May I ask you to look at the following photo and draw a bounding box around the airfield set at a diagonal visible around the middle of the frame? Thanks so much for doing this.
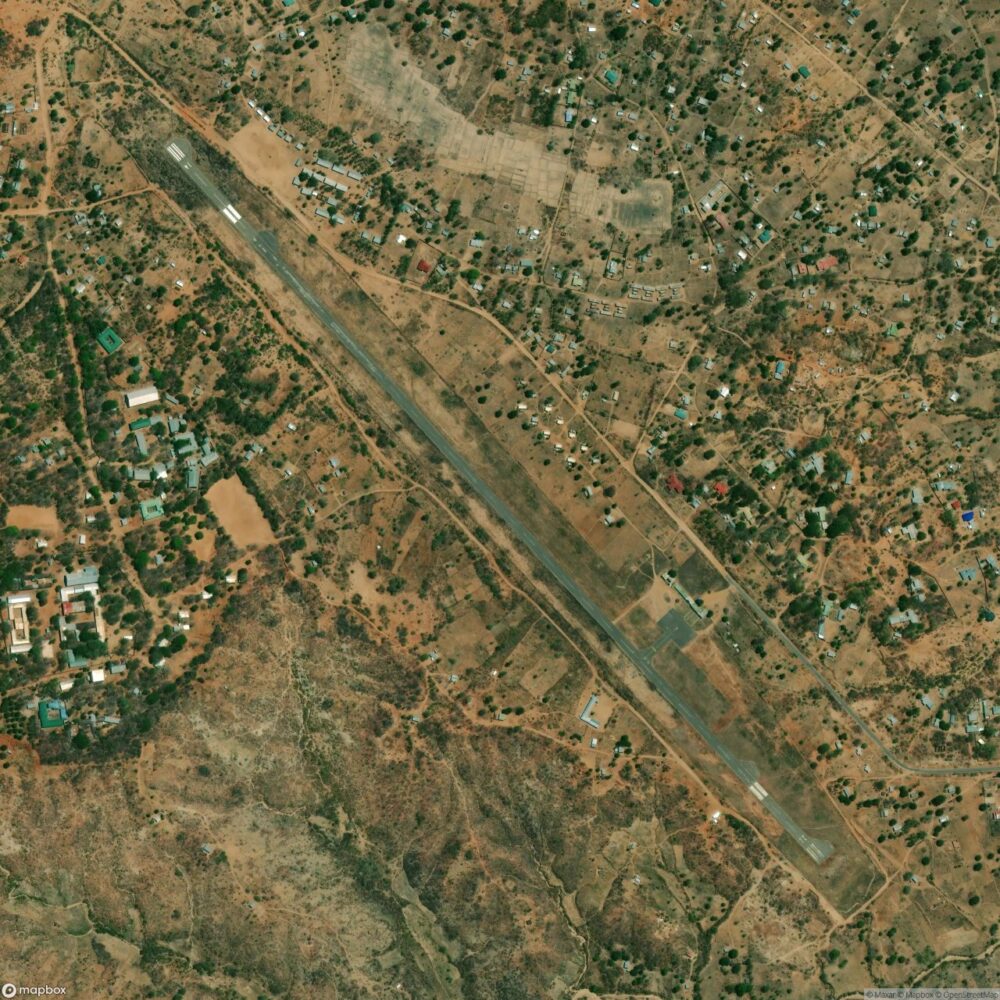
[164,137,831,864]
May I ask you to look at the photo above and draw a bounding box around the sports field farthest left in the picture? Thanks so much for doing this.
[7,505,60,529]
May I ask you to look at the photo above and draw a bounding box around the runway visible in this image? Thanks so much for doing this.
[164,140,826,864]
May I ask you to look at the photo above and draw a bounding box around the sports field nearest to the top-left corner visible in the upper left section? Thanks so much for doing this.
[229,121,302,196]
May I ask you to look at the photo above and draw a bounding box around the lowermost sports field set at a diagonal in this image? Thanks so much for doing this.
[207,475,275,548]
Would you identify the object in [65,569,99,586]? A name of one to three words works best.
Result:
building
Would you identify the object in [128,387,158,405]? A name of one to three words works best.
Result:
building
